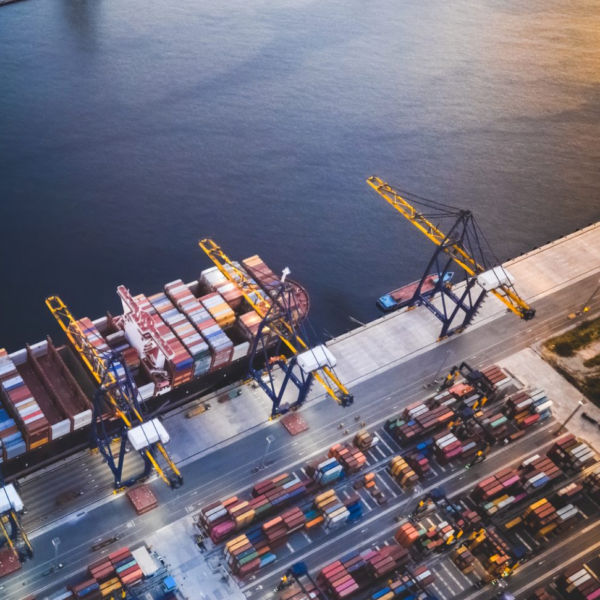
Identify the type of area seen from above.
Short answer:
port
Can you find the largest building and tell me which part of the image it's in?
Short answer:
bottom left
